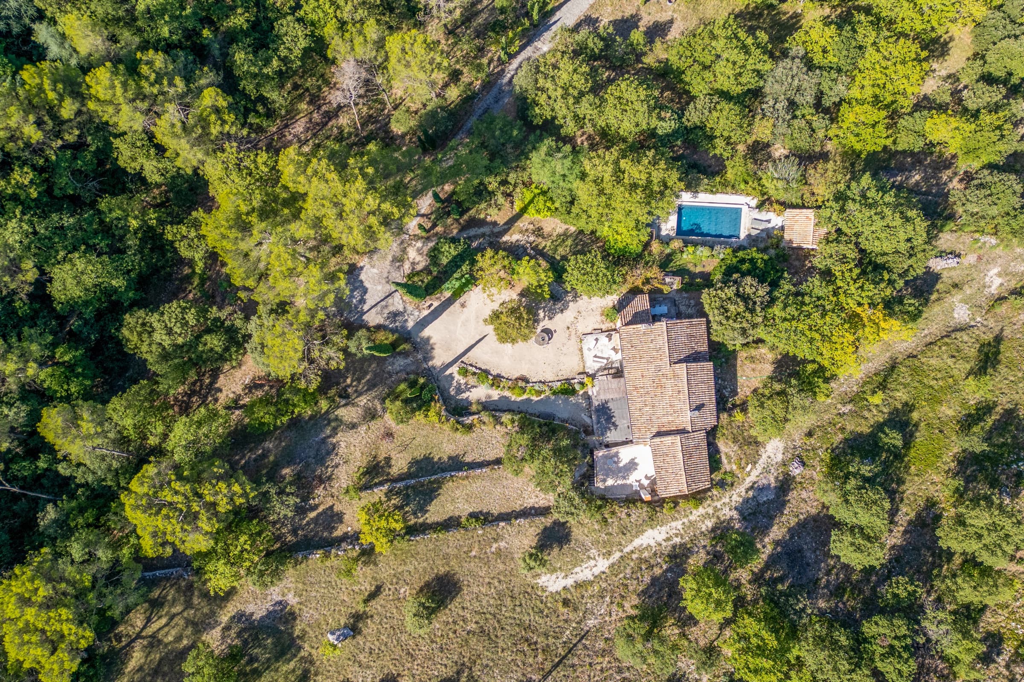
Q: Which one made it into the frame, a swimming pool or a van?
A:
swimming pool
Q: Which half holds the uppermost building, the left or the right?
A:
right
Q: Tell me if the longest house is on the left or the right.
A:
right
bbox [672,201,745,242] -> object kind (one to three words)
swimming pool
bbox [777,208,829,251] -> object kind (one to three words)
building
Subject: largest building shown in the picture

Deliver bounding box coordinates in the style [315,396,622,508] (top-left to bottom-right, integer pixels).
[617,317,719,498]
